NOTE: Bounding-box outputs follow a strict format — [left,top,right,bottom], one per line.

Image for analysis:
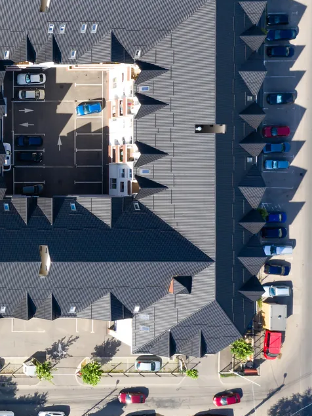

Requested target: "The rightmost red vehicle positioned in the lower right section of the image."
[265,329,281,360]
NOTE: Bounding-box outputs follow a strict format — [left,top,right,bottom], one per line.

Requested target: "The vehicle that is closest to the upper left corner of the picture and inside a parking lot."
[16,73,45,85]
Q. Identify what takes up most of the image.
buildings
